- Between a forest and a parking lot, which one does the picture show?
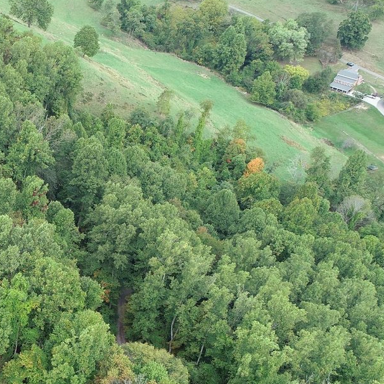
forest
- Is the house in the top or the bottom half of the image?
top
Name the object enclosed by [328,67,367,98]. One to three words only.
house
